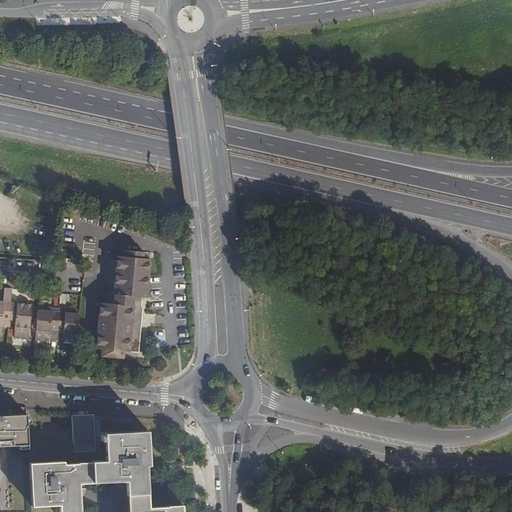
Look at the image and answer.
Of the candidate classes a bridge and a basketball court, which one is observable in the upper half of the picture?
bridge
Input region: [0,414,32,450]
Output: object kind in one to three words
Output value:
building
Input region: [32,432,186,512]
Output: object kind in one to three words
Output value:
building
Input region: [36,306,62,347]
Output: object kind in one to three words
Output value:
house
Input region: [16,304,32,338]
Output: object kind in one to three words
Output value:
house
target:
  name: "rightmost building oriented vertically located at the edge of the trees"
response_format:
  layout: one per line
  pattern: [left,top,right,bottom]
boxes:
[98,252,152,359]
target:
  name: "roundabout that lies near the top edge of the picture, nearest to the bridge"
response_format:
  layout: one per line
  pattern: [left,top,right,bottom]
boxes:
[164,0,217,45]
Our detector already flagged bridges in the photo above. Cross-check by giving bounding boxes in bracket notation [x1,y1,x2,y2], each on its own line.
[167,66,235,205]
